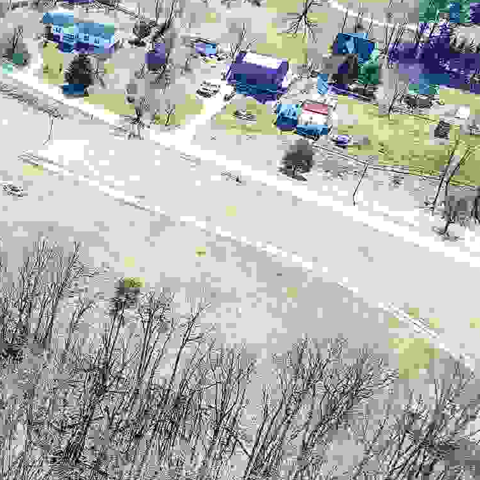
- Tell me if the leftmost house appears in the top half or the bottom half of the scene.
top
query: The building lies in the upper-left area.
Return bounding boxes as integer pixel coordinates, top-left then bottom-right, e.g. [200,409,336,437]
[51,8,125,56]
